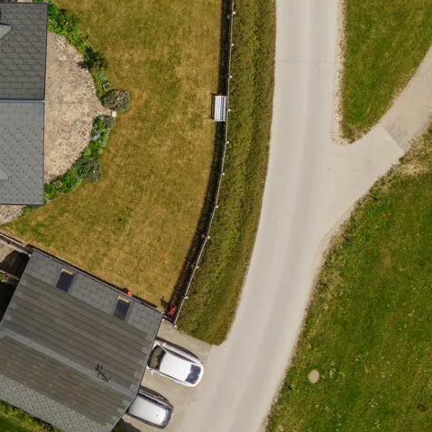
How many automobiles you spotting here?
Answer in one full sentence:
In total, there are 2 automobiles in the scene.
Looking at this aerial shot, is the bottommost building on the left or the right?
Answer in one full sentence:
It is on the left.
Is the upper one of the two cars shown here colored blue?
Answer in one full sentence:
No, the upper one of the two cars is actually white.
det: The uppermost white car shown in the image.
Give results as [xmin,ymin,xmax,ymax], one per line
[143,337,206,390]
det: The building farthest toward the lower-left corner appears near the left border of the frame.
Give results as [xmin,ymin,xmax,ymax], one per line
[0,247,165,432]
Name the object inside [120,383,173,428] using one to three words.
car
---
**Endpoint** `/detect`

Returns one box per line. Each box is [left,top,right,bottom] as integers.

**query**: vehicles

[120,383,173,428]
[143,337,206,390]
